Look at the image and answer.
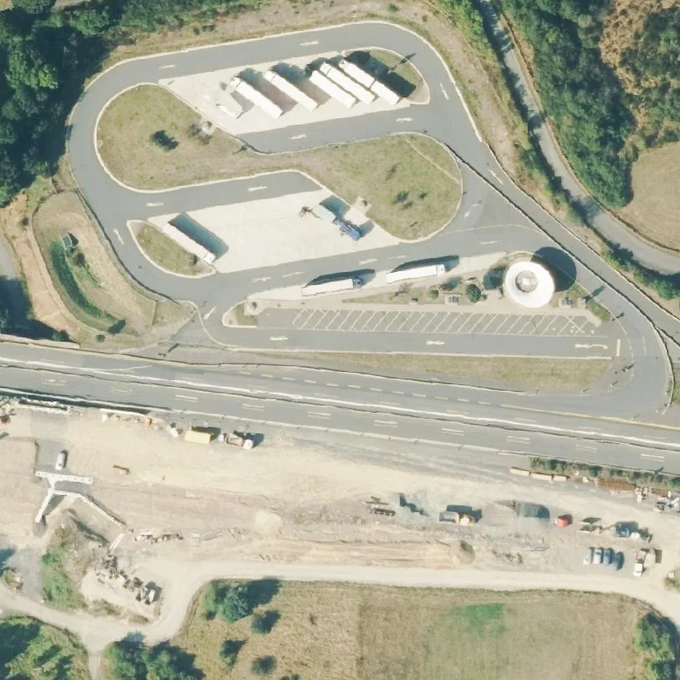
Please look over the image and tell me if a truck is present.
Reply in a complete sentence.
Yes, a truck can be made out from above.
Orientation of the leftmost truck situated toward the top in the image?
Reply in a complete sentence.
The leftmost truck situated toward the top is laid out diagonally.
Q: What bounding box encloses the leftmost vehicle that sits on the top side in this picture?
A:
[161,221,216,263]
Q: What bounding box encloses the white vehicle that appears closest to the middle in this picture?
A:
[299,278,362,296]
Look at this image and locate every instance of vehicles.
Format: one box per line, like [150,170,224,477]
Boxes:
[594,548,602,565]
[386,264,447,282]
[441,511,473,526]
[225,433,256,450]
[341,57,399,104]
[555,519,568,525]
[299,278,362,296]
[305,65,359,111]
[320,207,363,240]
[631,532,641,540]
[644,550,656,573]
[586,549,595,565]
[633,551,646,575]
[230,75,284,120]
[264,69,320,113]
[613,554,623,570]
[603,549,611,565]
[161,221,216,263]
[54,450,65,470]
[598,521,631,538]
[322,61,376,104]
